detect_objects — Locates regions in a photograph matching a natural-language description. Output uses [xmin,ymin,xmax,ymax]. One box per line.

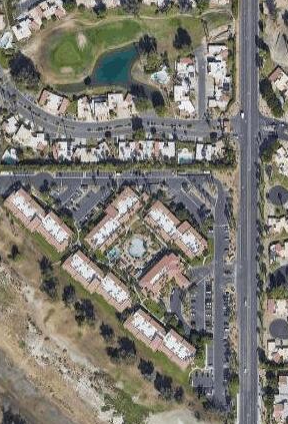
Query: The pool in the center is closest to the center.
[129,237,145,255]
